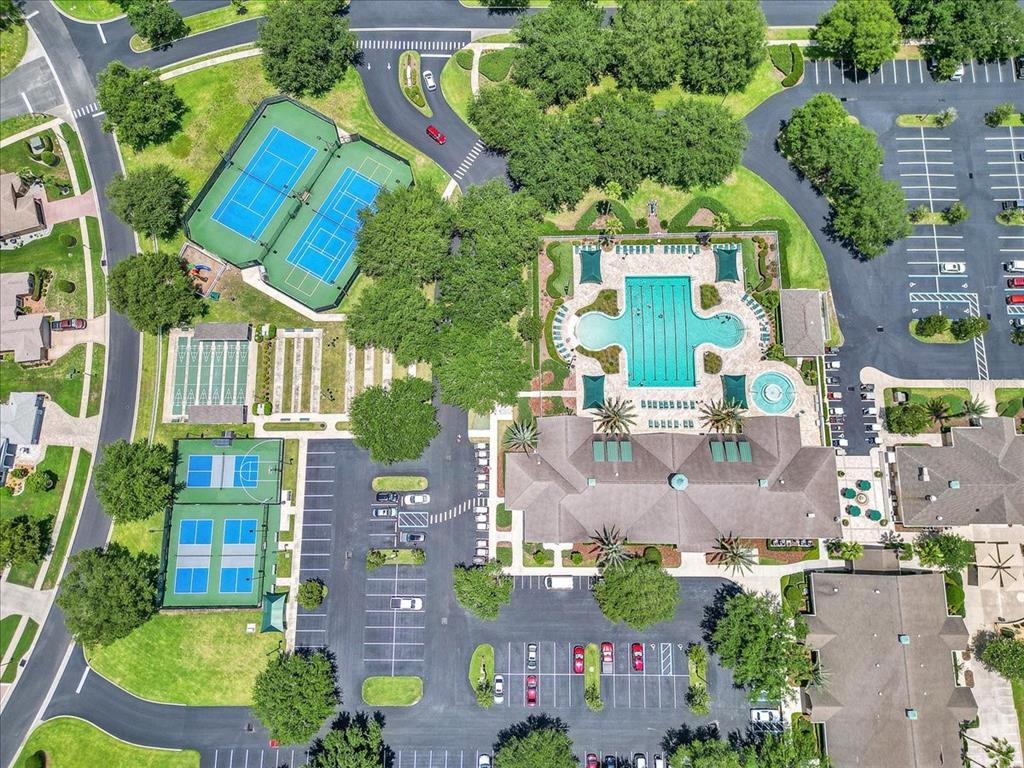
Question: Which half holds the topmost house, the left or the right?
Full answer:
The topmost house appears in the left half of the scene.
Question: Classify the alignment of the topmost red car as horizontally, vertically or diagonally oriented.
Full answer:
Seen from above, the topmost red car lies diagonally.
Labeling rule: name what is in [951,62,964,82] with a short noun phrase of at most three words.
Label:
vehicle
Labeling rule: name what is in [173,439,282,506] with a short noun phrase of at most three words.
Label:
sports court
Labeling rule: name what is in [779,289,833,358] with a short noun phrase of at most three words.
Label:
building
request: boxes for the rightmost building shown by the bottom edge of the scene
[802,572,980,768]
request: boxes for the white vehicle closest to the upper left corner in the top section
[422,70,438,92]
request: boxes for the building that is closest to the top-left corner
[0,172,46,242]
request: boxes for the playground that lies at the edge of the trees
[177,241,227,298]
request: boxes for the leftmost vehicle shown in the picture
[51,318,87,331]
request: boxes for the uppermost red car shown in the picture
[425,123,447,145]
